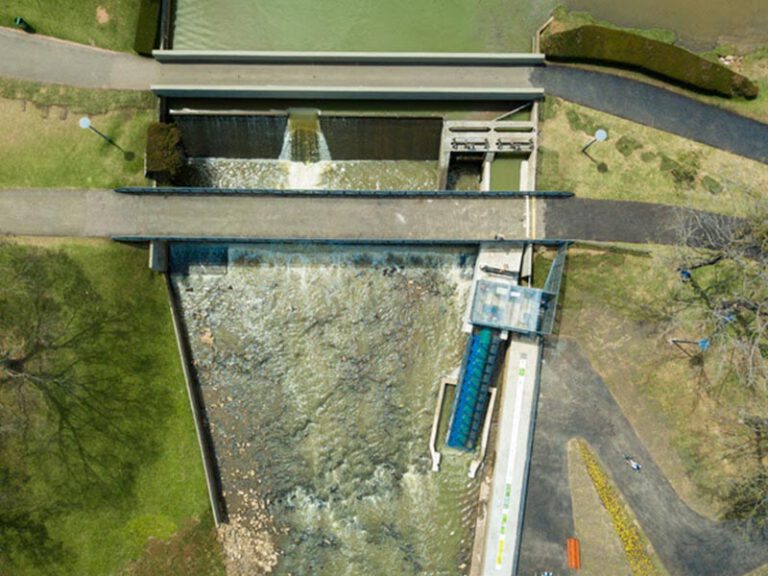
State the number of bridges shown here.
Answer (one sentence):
I count 2 bridges.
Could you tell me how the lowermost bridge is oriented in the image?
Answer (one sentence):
I'd say the lowermost bridge is aligned horizontally in the picture.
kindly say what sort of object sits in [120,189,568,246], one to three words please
bridge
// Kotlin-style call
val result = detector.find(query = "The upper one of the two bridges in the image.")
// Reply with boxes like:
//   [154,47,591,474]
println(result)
[151,51,545,100]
